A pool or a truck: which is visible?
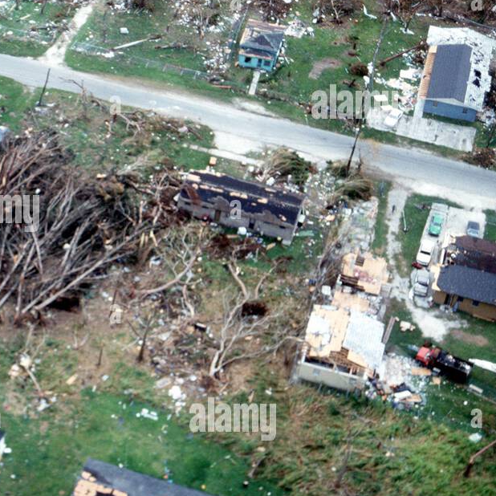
truck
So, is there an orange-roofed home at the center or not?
No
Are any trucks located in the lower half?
Yes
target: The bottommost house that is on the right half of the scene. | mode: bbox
[296,305,383,395]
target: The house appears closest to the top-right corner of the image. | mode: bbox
[417,27,496,126]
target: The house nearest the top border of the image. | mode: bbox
[236,19,285,71]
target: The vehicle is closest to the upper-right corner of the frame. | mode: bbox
[383,109,407,128]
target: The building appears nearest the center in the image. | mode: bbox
[177,169,305,239]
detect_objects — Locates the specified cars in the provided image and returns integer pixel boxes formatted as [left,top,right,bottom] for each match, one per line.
[411,270,431,300]
[418,238,436,267]
[427,210,445,237]
[383,109,407,128]
[465,216,482,240]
